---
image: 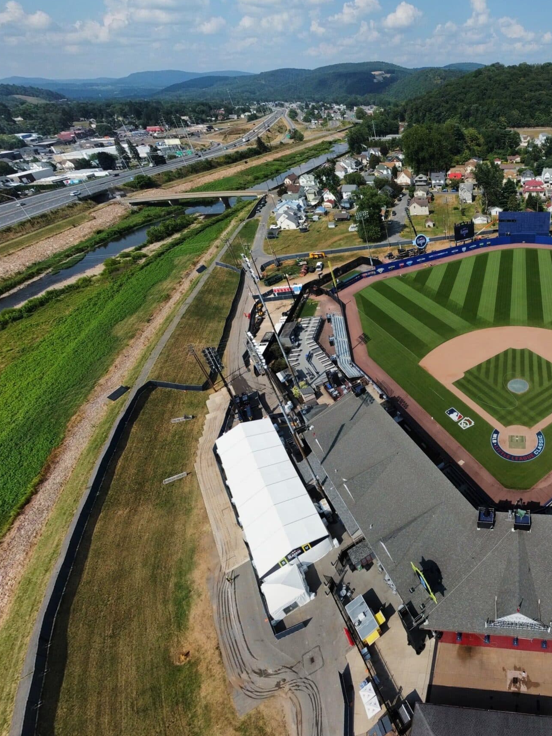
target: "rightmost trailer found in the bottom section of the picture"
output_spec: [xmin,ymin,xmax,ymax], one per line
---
[345,595,385,645]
